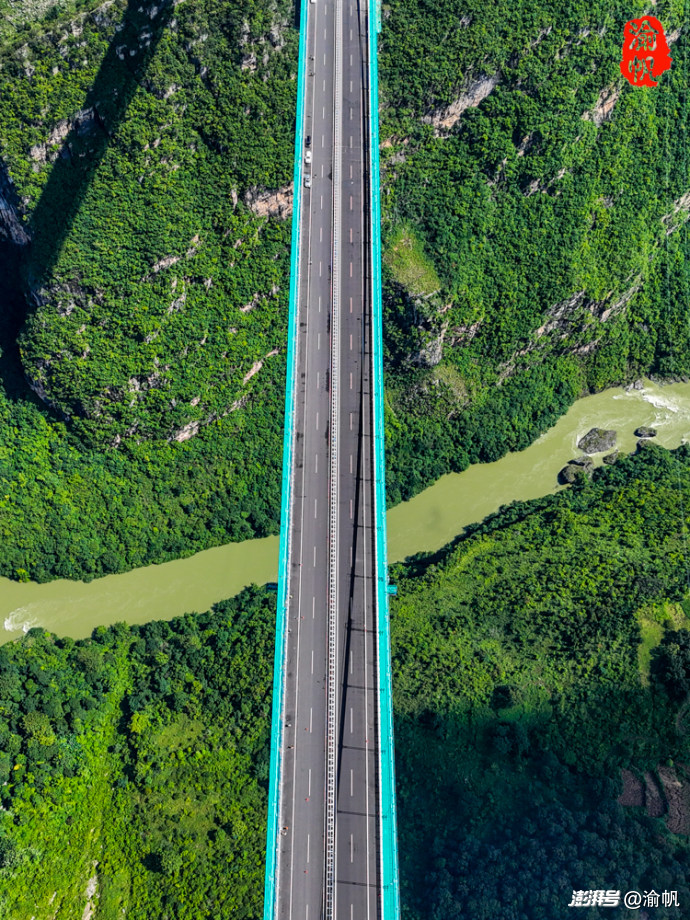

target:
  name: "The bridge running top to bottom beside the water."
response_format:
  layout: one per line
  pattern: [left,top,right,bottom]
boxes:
[262,0,399,920]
